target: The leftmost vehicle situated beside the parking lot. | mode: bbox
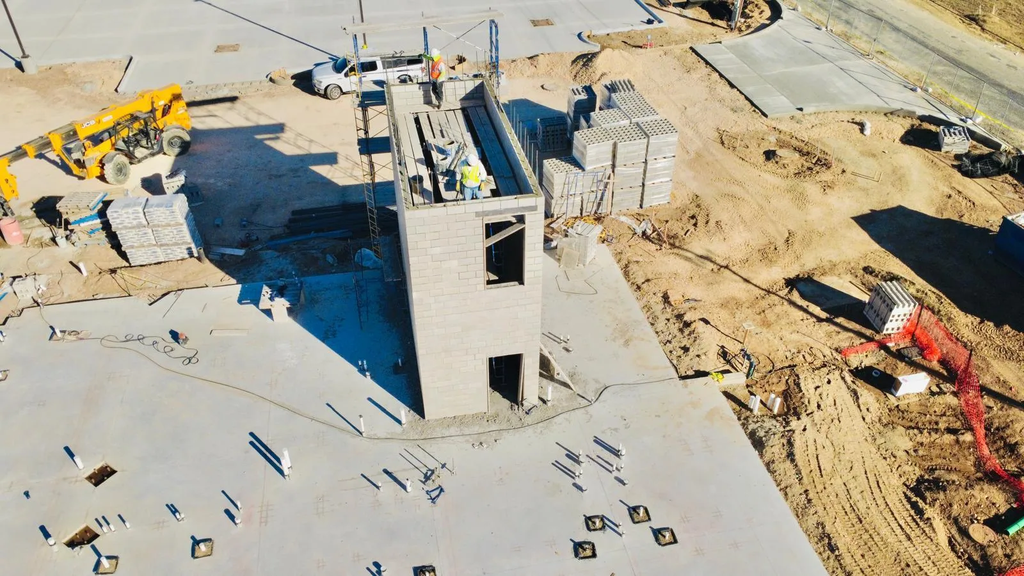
[0,82,195,224]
